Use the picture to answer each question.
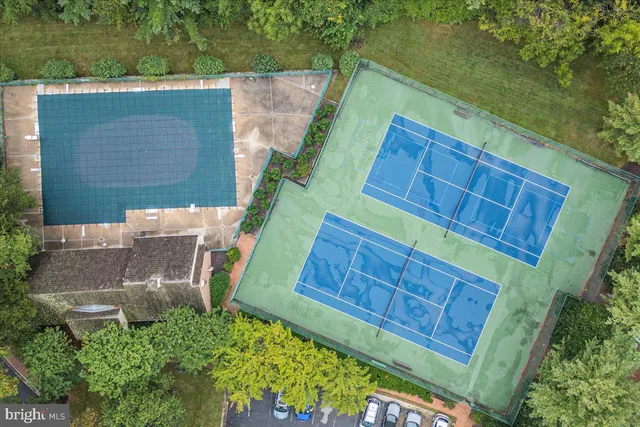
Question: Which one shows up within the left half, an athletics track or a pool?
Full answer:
The feature located within the left half is a pool.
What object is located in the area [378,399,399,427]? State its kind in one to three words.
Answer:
car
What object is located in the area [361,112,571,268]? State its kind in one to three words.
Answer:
tennis court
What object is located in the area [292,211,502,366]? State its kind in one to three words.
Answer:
tennis court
